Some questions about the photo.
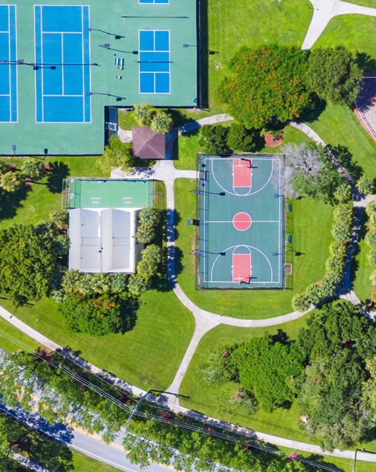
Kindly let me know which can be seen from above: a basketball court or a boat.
basketball court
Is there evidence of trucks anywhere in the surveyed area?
No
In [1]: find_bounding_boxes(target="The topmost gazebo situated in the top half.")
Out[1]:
[132,127,170,159]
